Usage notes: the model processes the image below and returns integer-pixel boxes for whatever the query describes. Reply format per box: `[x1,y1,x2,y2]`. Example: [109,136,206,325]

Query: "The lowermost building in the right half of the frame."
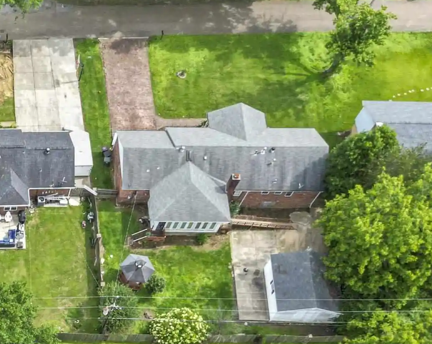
[259,242,340,322]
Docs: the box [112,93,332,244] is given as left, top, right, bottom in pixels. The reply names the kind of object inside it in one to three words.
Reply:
house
